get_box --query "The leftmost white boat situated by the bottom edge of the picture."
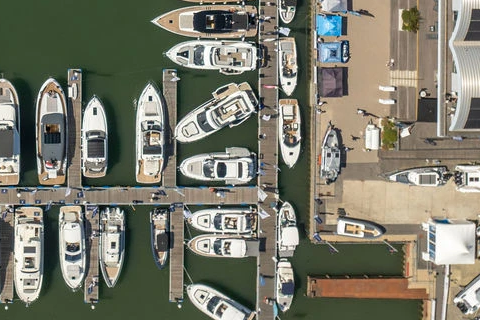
[12,206,45,306]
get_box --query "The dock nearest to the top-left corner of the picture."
[68,68,82,184]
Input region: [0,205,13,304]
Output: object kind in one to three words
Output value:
pier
